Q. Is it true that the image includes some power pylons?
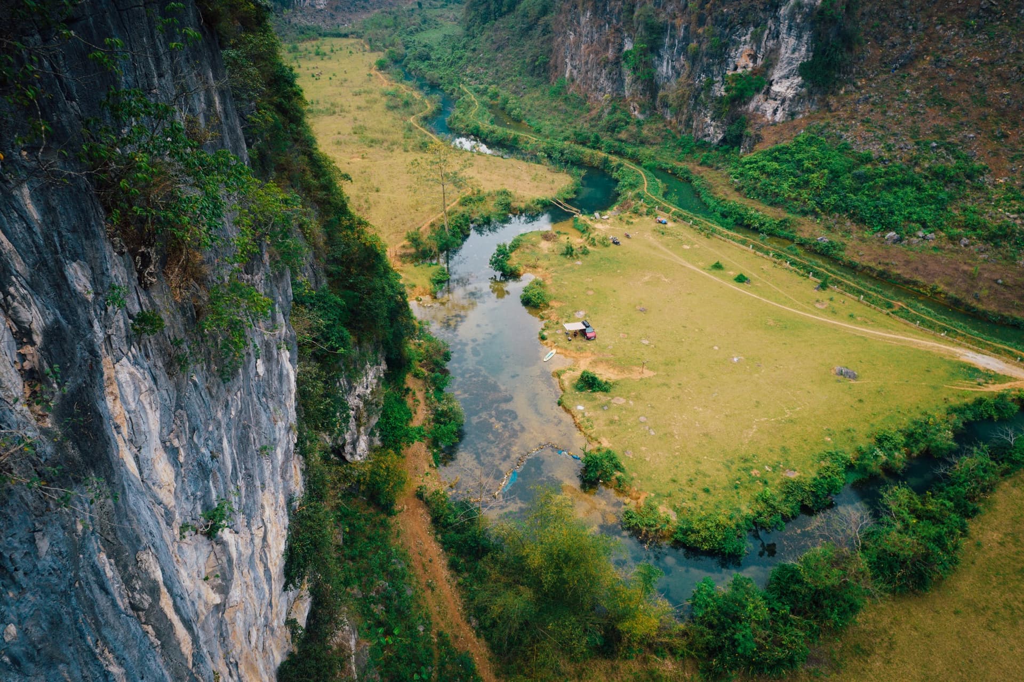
No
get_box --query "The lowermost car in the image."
[566,319,597,341]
